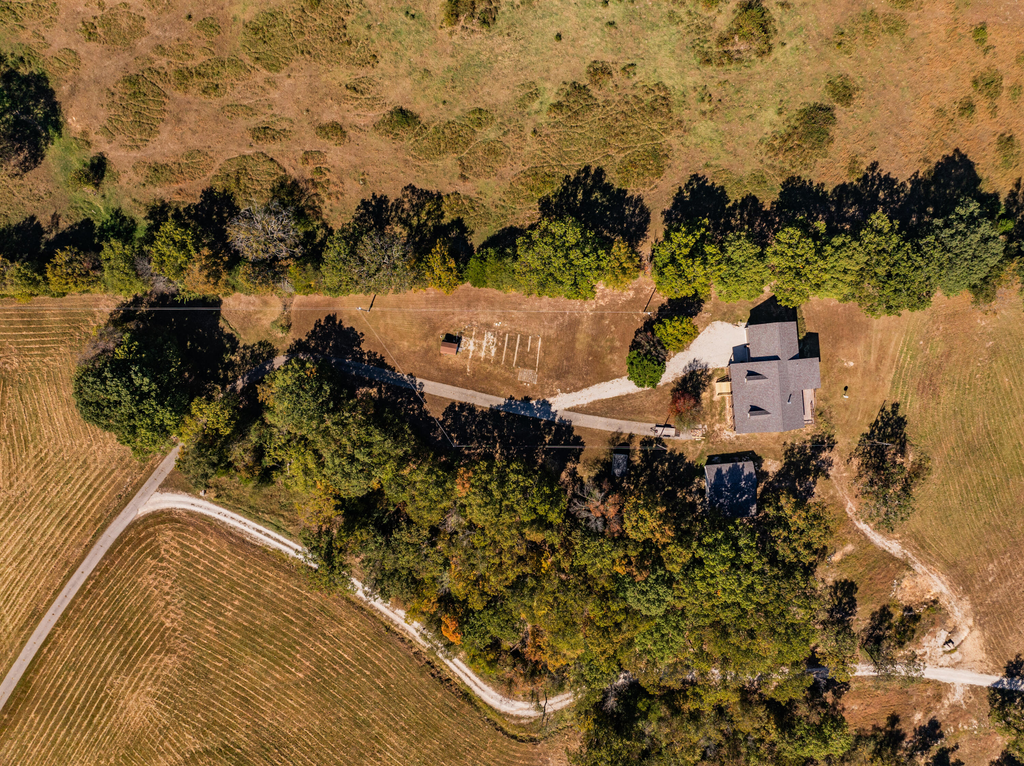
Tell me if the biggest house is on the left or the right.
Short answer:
right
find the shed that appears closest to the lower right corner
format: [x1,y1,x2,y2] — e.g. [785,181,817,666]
[702,462,757,519]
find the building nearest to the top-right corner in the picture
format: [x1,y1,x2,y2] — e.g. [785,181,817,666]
[715,322,821,434]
